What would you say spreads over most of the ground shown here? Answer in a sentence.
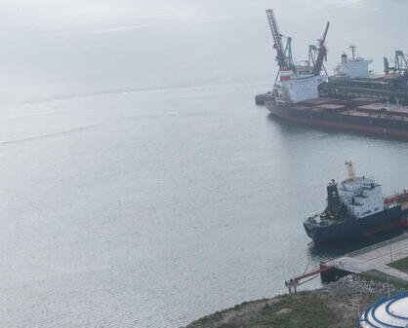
The largest share of the image is taken up by water.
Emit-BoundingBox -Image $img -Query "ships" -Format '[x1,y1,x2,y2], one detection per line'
[256,63,408,138]
[319,43,408,102]
[295,137,408,239]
